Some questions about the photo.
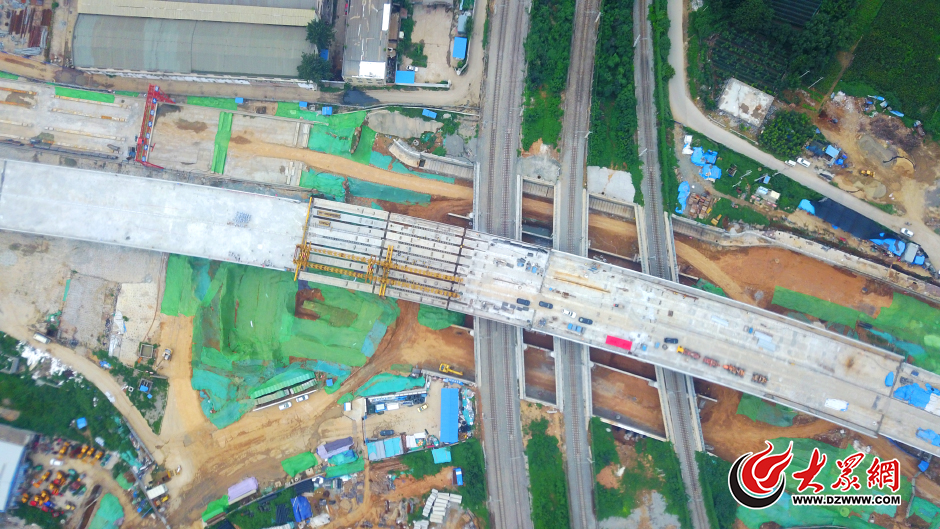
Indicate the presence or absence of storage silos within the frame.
No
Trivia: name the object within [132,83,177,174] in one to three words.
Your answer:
container crane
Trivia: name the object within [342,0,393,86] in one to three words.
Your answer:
building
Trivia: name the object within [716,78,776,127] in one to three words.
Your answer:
house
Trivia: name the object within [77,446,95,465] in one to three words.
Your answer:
work vehicle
